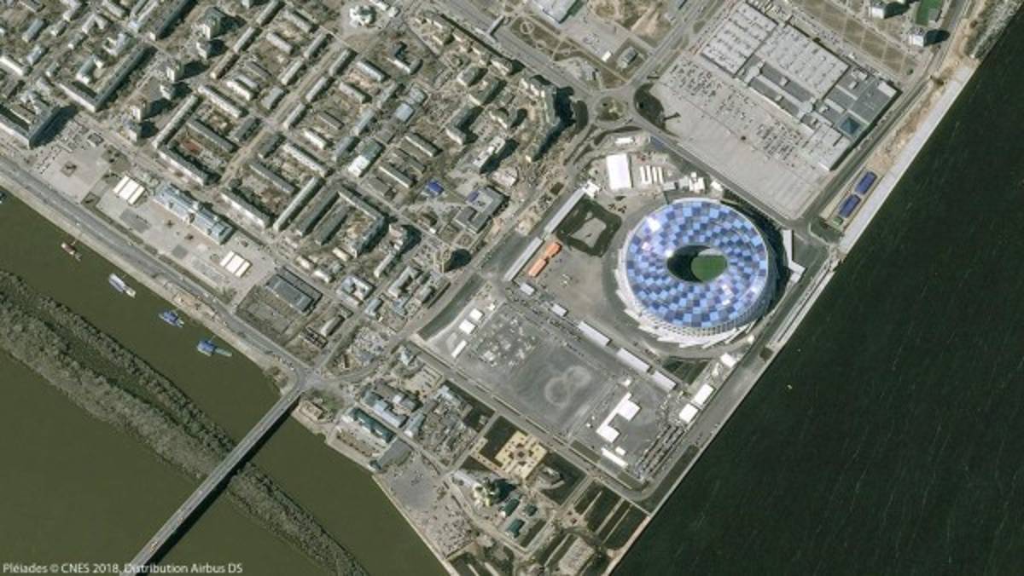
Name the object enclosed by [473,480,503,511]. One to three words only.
building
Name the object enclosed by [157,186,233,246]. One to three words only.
building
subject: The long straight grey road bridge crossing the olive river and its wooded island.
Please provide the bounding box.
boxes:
[120,376,310,576]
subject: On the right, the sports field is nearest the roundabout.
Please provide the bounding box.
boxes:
[668,253,728,280]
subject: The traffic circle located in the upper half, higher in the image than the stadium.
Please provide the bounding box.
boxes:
[586,85,637,131]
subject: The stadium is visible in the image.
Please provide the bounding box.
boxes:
[616,197,776,350]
